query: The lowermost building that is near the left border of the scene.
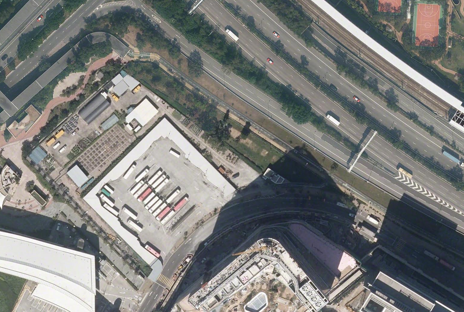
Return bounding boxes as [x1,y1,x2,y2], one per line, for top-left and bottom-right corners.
[0,227,96,305]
